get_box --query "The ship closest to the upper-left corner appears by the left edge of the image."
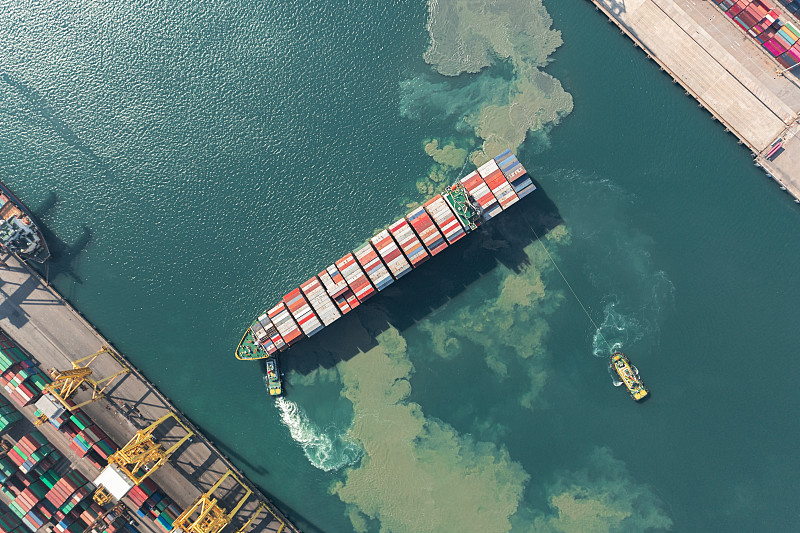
[0,176,60,264]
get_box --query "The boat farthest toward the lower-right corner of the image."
[614,352,649,402]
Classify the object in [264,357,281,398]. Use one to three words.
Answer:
boat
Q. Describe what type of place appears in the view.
port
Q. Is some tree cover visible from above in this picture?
No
